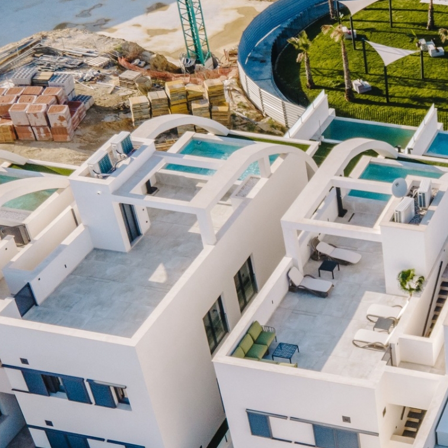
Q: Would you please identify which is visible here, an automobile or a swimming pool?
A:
swimming pool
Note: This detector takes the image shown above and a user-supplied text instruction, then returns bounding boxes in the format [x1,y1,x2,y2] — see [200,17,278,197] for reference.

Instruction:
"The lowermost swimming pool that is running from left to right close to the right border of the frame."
[350,161,447,198]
